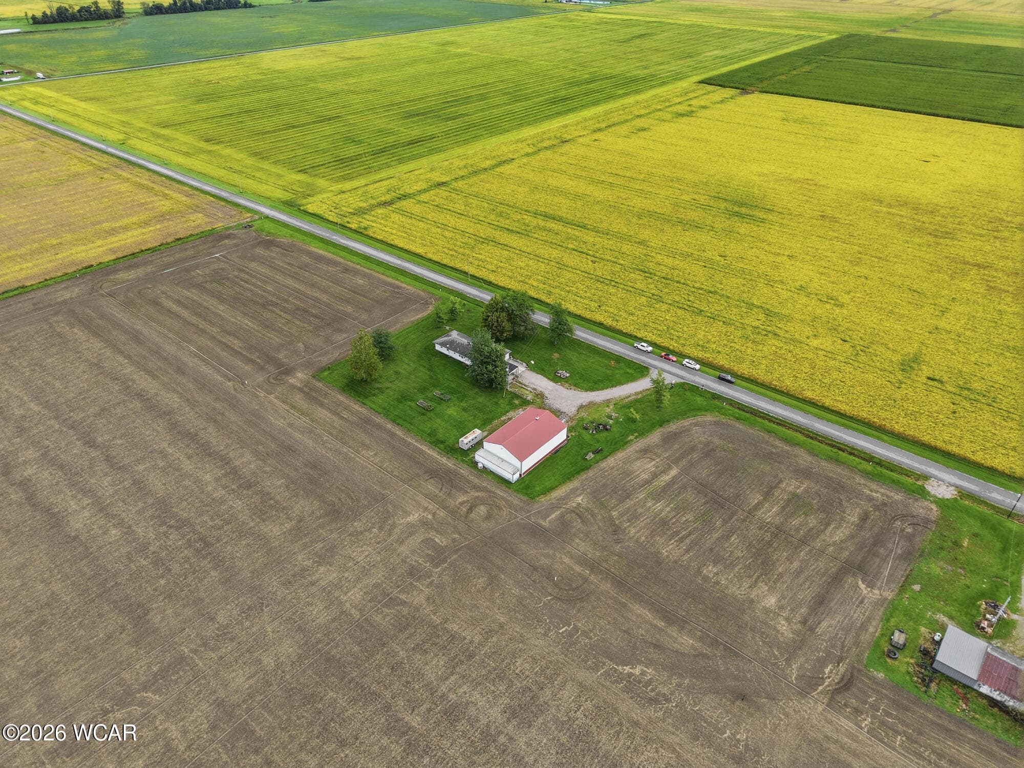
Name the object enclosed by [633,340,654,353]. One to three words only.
vehicle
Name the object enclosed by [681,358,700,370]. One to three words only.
vehicle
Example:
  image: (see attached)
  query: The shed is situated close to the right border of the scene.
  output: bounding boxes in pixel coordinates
[935,625,1024,724]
